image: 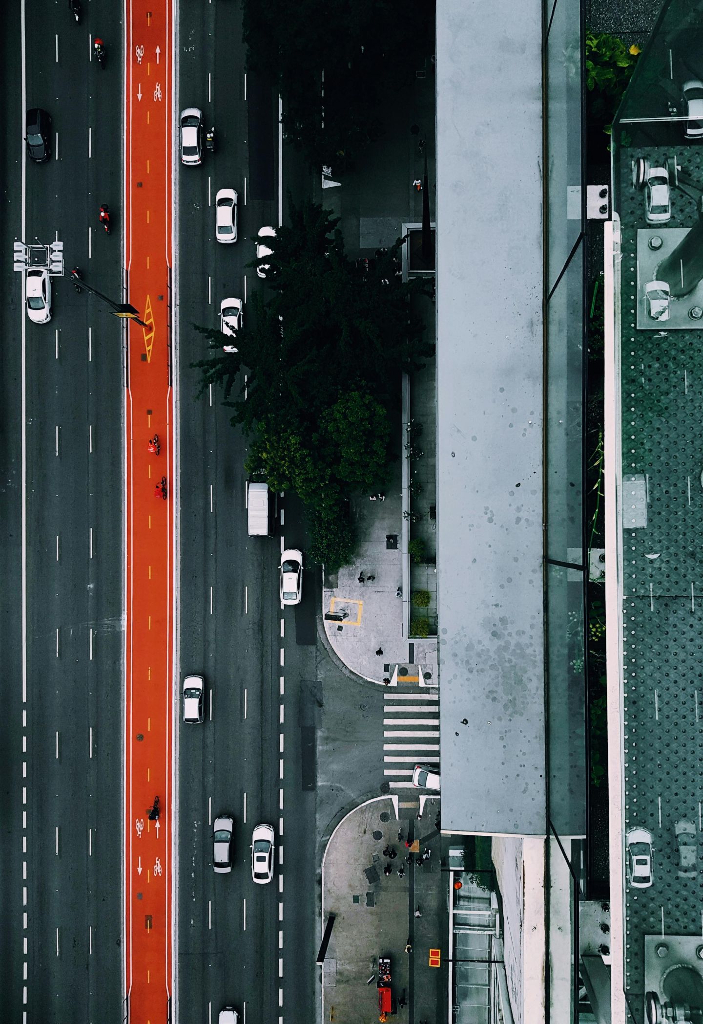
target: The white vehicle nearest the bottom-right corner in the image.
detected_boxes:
[412,763,441,793]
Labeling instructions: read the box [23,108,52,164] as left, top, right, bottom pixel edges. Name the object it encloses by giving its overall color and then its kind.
black car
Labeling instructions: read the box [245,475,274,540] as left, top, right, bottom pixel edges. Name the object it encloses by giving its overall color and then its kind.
white van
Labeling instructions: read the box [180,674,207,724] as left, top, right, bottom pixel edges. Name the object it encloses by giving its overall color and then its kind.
white car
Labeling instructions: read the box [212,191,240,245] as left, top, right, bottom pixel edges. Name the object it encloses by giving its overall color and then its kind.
white car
